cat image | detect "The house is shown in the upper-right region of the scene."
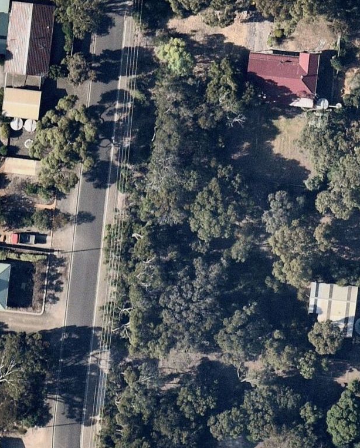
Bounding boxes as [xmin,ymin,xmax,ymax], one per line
[244,52,320,108]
